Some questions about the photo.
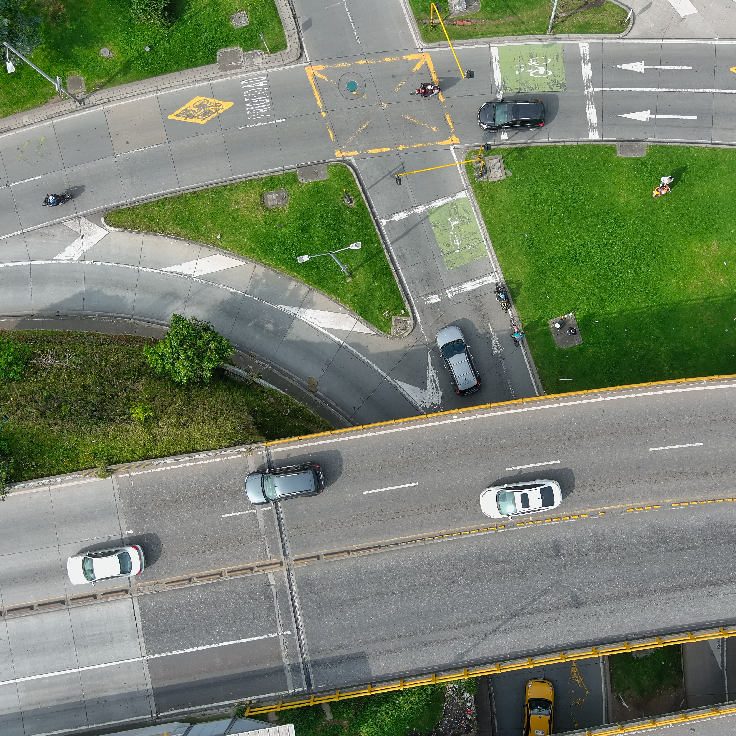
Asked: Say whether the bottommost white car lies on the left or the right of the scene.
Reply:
left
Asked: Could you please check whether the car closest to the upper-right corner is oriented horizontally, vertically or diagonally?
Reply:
horizontally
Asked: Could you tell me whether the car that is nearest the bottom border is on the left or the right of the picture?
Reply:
right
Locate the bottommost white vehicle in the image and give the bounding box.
[67,542,149,587]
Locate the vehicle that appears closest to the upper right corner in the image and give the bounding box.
[477,96,547,132]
